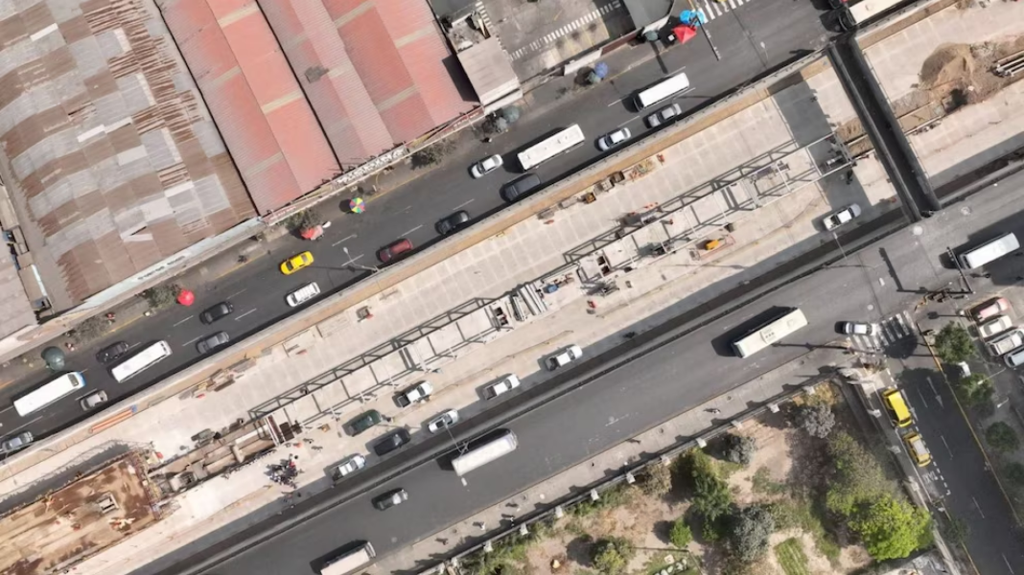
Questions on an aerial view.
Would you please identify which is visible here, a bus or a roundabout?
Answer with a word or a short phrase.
bus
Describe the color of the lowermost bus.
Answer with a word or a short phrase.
white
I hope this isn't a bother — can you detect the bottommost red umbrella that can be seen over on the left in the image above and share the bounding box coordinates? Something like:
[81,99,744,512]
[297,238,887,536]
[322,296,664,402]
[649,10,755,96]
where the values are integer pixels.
[179,288,197,306]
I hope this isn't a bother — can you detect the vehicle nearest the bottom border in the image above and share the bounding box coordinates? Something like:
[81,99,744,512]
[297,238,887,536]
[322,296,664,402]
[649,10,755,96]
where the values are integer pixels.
[304,539,382,575]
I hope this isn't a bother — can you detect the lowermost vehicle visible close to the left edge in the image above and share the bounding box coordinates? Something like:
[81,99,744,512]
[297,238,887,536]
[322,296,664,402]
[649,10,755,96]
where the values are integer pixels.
[0,428,35,454]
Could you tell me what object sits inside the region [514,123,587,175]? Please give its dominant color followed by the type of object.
white bus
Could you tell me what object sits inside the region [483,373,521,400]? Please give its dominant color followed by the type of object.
white truck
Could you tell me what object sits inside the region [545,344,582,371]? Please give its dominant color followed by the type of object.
white truck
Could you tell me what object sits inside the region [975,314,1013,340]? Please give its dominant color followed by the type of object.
white car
